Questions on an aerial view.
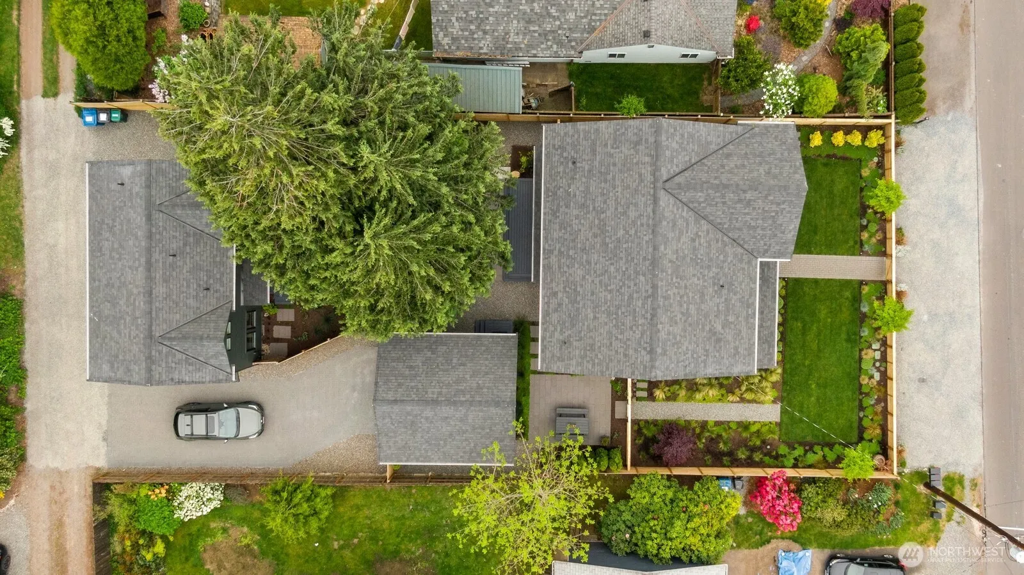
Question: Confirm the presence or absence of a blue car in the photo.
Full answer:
No, no blue car is visible in the view.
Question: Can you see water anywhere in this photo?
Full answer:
No, there's no water in this view.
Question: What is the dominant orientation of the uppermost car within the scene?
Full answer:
What the image shows is the uppermost car lying from side to side.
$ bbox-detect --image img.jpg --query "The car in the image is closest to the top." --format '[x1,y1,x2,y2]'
[175,400,266,443]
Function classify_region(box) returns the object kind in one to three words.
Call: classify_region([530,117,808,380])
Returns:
house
